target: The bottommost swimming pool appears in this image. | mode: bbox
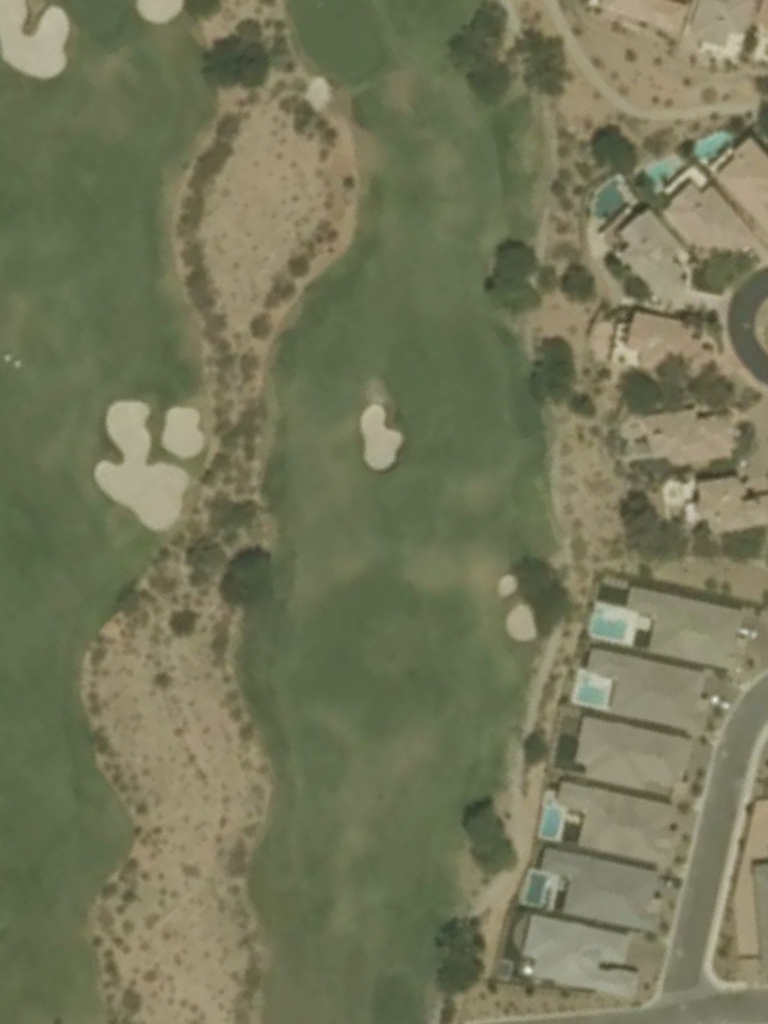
[518,868,564,912]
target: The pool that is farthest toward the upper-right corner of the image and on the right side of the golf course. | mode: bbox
[693,127,736,165]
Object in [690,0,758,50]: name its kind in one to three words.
house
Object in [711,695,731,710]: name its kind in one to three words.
car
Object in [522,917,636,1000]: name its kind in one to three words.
house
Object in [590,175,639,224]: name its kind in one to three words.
swimming pool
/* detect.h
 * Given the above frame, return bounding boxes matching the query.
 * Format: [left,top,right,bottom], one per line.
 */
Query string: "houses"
[522,917,636,1000]
[716,135,768,224]
[589,649,703,733]
[666,168,754,260]
[690,0,758,50]
[557,783,677,863]
[589,0,673,32]
[627,587,743,665]
[620,212,694,303]
[539,850,657,929]
[628,311,711,381]
[631,412,740,464]
[687,478,768,535]
[574,718,692,795]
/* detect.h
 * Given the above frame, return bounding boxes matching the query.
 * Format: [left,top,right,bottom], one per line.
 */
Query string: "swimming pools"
[645,154,685,191]
[588,600,651,648]
[590,175,639,224]
[572,668,612,710]
[518,868,564,912]
[539,791,580,843]
[693,127,736,165]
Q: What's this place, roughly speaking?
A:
golf course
